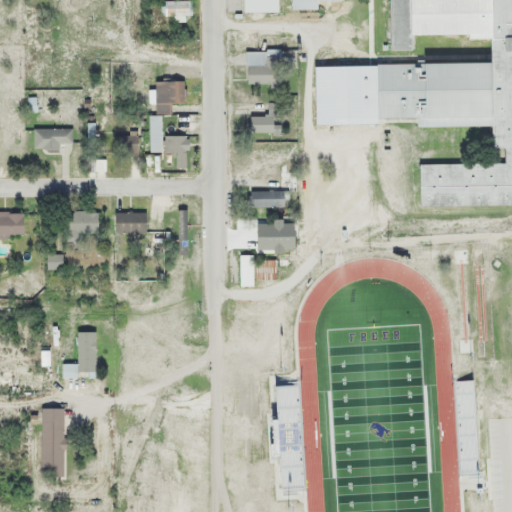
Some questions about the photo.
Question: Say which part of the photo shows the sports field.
bottom right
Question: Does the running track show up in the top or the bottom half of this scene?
bottom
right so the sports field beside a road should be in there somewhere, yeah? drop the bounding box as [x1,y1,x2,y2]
[316,278,444,512]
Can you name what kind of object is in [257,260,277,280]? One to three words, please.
barn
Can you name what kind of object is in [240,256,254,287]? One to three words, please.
shed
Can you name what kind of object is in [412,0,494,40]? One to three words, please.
building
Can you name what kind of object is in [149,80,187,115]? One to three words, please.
house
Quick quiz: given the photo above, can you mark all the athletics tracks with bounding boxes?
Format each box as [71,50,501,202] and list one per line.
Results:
[299,258,460,512]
